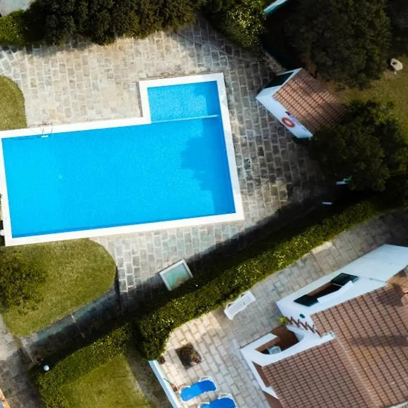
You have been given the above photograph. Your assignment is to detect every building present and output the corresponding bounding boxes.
[239,243,408,408]
[255,69,347,135]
